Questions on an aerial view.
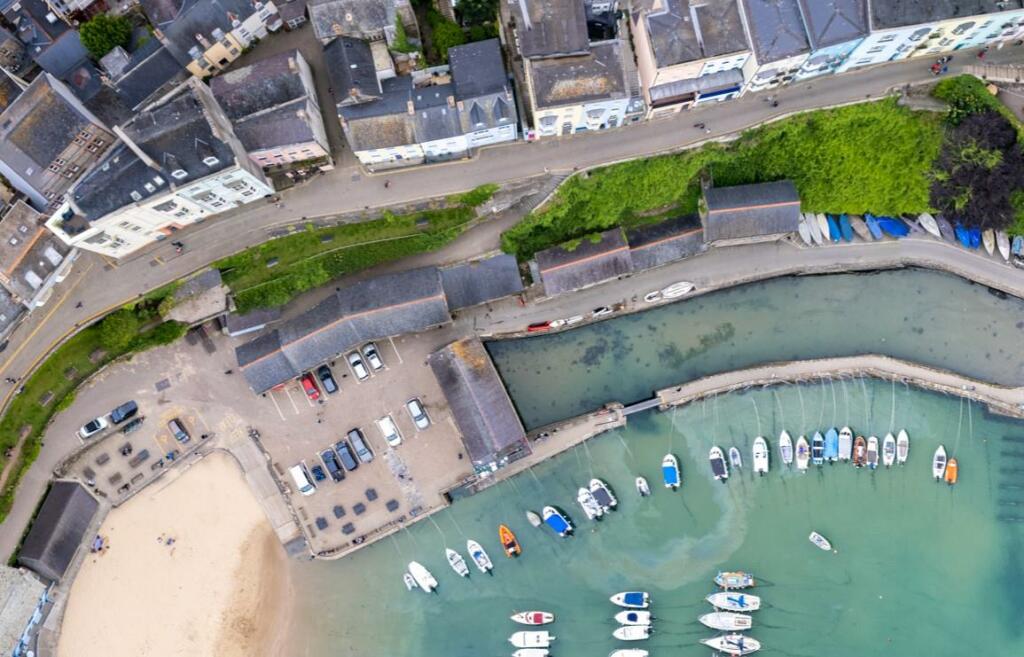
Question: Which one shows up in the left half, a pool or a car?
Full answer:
There is a car in the left half.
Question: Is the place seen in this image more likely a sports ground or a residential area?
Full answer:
What you see here is a residential area.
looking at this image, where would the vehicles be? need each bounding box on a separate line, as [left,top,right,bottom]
[318,447,347,484]
[286,461,317,497]
[333,439,361,472]
[78,415,109,439]
[110,400,140,424]
[361,343,385,372]
[165,415,193,445]
[298,373,321,401]
[317,365,340,395]
[346,351,371,382]
[405,397,430,429]
[375,414,402,448]
[347,428,374,463]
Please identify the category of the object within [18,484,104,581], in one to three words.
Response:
building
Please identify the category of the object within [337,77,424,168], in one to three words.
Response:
house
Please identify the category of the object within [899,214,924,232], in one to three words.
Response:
boat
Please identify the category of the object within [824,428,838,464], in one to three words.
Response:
boat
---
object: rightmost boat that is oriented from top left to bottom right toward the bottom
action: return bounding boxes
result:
[810,532,834,553]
